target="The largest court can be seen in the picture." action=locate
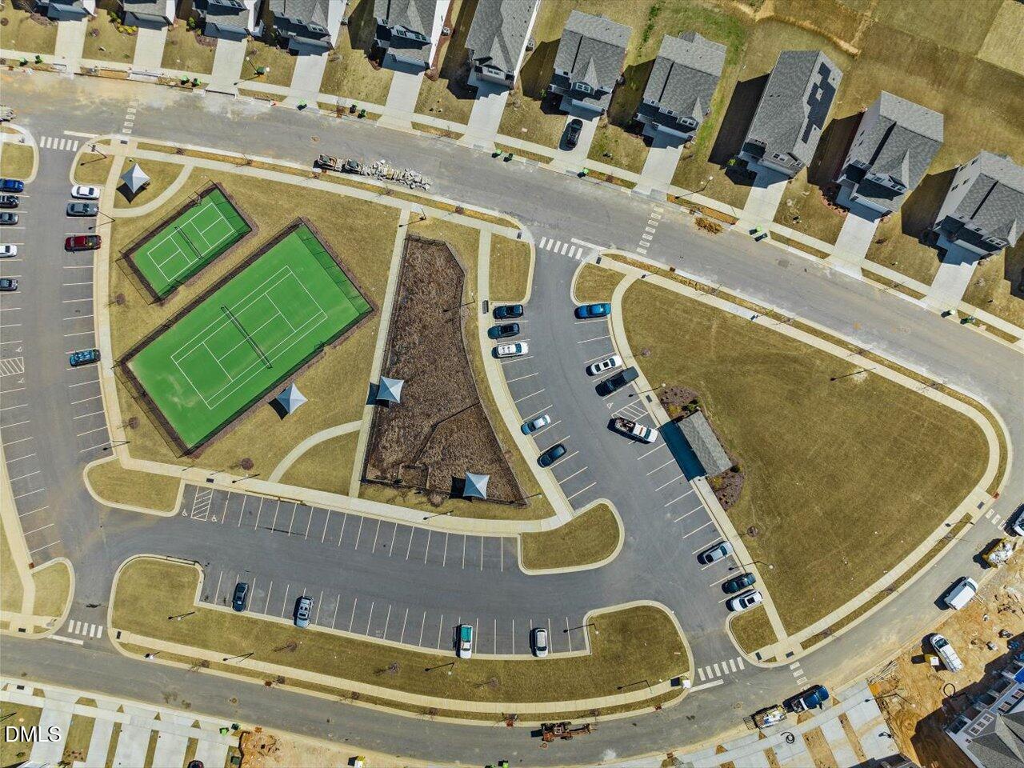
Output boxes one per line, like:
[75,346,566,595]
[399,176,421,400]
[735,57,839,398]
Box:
[126,223,372,449]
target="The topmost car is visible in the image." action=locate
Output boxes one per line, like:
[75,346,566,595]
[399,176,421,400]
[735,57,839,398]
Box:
[566,117,583,148]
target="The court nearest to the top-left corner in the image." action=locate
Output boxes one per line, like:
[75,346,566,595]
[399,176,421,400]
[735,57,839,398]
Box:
[130,186,250,300]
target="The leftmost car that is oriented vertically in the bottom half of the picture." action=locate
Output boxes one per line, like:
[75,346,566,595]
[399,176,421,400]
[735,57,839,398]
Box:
[232,583,248,612]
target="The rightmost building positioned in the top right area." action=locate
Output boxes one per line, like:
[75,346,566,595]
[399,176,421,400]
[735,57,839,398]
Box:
[933,149,1024,258]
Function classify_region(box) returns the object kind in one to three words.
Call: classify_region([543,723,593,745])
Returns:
work vehicle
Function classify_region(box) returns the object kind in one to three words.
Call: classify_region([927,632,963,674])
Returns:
van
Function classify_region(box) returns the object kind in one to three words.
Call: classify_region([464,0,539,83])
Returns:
house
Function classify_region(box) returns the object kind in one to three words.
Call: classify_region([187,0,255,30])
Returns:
house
